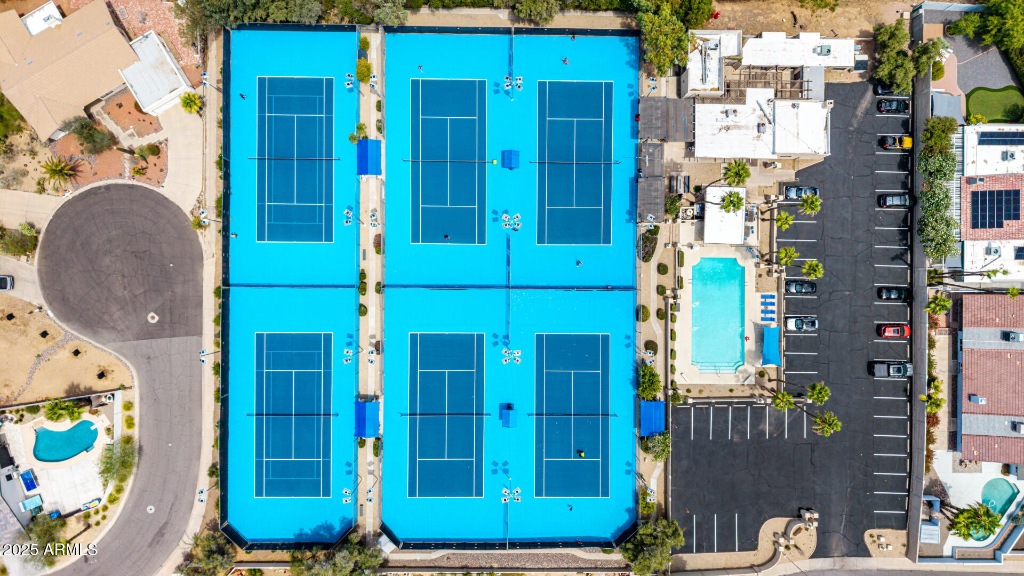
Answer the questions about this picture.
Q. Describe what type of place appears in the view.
sports ground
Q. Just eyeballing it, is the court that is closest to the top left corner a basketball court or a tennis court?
tennis court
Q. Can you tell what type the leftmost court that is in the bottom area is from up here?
tennis court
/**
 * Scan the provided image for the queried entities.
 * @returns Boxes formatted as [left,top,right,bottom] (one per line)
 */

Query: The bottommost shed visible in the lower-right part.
[920,520,940,544]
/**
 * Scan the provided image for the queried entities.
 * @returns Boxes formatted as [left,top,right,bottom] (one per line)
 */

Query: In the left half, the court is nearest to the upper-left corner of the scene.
[229,30,360,287]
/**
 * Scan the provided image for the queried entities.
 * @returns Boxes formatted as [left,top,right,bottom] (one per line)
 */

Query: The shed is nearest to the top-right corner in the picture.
[924,23,943,45]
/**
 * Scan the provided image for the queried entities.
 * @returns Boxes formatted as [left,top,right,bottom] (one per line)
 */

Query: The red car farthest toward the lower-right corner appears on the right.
[880,324,913,339]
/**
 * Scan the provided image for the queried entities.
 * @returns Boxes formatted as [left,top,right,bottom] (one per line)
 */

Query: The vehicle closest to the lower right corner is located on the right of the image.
[872,362,914,378]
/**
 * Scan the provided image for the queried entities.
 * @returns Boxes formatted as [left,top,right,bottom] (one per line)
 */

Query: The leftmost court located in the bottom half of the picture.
[228,286,359,543]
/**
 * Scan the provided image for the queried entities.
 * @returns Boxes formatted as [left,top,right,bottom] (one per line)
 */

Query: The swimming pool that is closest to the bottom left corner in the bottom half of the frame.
[31,418,99,463]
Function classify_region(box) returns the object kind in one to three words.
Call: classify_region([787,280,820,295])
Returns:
car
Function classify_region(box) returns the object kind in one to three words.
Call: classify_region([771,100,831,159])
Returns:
building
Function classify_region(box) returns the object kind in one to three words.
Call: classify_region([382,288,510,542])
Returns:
tennis court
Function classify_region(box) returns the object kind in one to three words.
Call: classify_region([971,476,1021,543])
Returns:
swimming pool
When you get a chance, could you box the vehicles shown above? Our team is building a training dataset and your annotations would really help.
[787,316,821,332]
[0,276,13,290]
[879,97,912,113]
[880,192,917,208]
[877,82,912,96]
[787,184,821,199]
[879,285,914,301]
[880,324,913,339]
[872,362,914,378]
[787,280,820,295]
